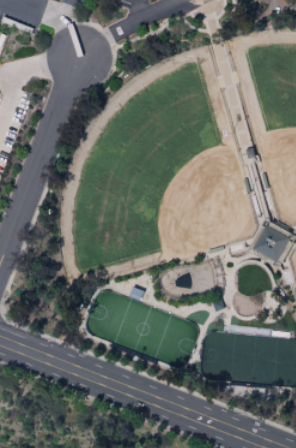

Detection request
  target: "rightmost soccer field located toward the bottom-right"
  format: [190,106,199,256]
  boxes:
[200,332,296,387]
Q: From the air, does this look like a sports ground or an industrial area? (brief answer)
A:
sports ground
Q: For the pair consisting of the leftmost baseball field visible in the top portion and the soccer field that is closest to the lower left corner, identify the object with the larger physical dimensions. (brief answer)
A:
the baseball field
